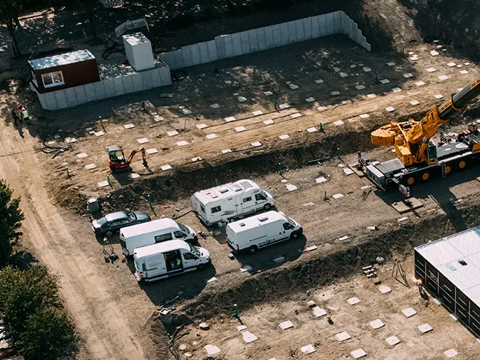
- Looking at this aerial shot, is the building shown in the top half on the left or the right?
left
